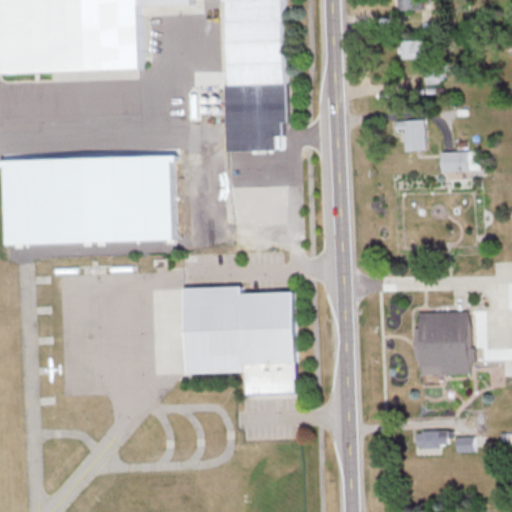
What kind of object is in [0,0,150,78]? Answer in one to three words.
hangar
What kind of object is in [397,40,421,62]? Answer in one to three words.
house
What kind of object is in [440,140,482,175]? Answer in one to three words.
house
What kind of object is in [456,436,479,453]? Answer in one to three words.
building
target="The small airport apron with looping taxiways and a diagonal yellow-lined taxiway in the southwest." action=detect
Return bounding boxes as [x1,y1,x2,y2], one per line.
[20,262,236,512]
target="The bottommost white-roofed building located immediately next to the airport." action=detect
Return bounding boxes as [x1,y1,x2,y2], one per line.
[184,287,298,394]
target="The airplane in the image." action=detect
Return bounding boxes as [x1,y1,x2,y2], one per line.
[43,356,60,384]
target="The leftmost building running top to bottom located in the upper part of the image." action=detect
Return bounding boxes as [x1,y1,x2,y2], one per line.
[226,0,290,155]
